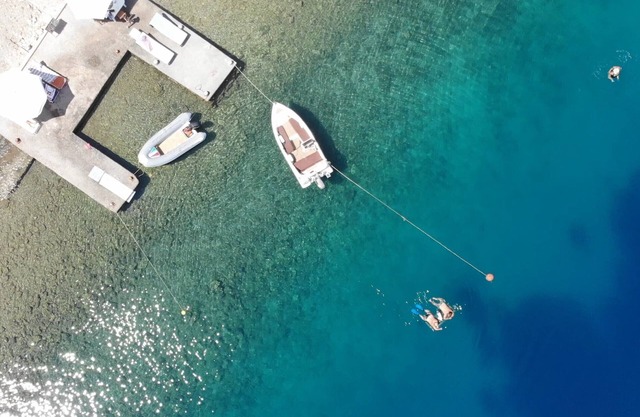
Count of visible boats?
two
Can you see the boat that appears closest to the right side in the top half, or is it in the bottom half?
top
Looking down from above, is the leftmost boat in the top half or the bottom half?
top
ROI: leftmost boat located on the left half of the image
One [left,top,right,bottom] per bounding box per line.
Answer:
[139,112,208,166]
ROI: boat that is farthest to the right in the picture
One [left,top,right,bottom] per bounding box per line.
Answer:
[271,101,334,191]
